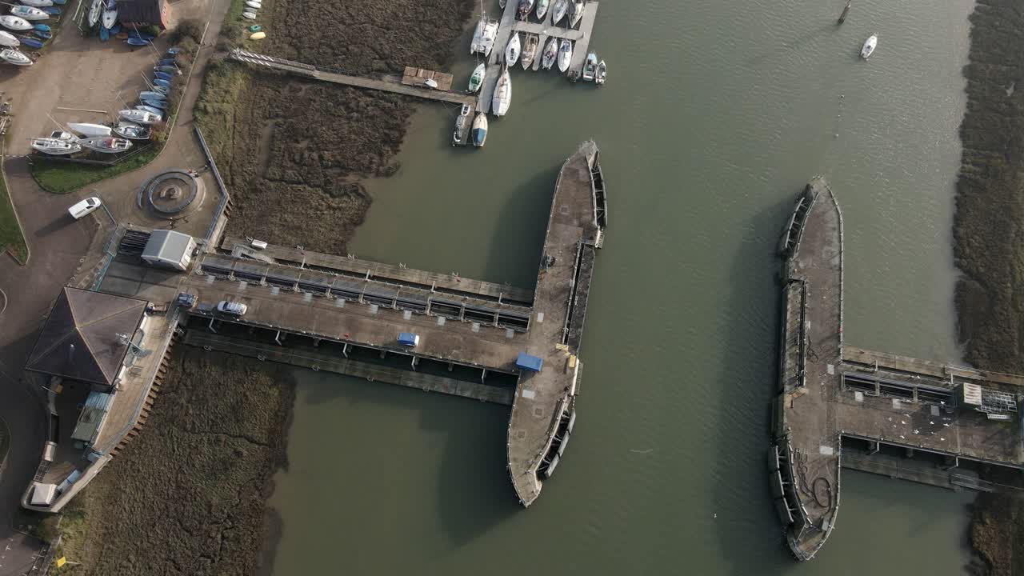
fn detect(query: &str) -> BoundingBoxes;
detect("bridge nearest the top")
[182,235,537,407]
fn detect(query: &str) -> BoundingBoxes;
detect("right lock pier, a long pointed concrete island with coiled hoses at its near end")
[765,175,846,559]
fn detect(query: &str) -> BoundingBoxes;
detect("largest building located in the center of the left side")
[25,287,151,387]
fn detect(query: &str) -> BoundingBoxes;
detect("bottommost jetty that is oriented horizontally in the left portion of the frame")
[277,59,478,147]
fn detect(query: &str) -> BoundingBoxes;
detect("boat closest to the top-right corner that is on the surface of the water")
[858,33,877,62]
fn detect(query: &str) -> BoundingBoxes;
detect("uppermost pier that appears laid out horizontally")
[510,20,583,41]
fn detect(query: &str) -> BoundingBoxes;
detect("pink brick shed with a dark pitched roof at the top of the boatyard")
[115,0,167,31]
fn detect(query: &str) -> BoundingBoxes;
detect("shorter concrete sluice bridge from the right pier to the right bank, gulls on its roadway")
[828,347,1024,508]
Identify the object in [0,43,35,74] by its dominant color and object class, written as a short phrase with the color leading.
white boat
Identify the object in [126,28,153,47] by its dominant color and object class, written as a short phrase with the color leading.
blue boat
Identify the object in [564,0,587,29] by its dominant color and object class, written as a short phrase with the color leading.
white boat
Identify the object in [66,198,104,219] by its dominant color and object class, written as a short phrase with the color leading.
white vehicle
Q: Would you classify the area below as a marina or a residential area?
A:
marina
